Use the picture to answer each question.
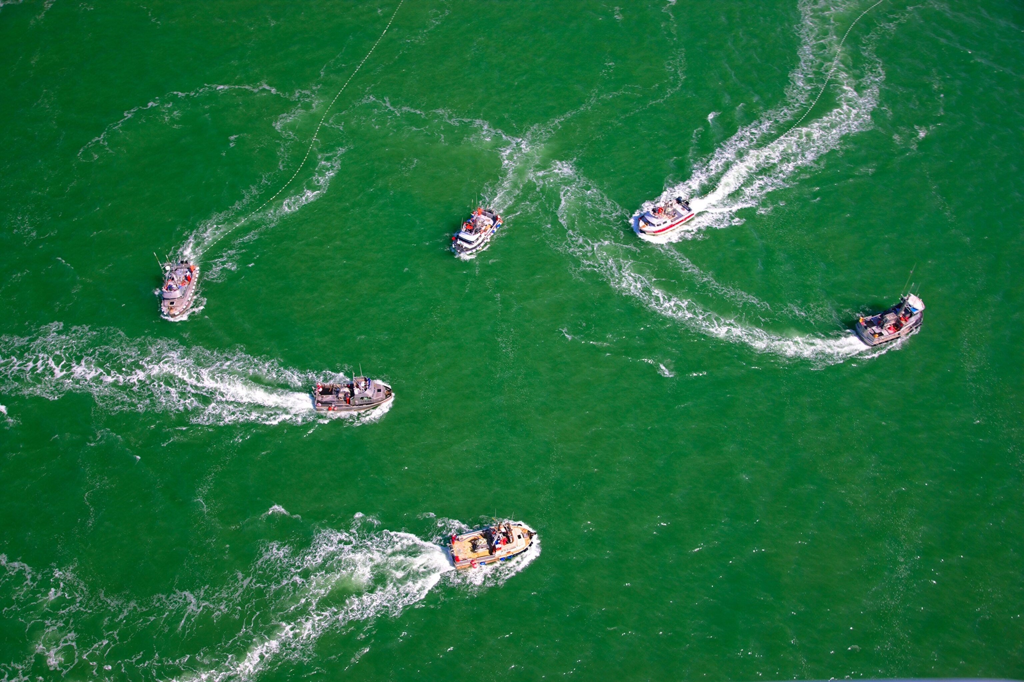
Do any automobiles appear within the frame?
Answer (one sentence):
No, this view has no automobile in it.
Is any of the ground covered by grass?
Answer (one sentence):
No, grass can't be seen anywhere here.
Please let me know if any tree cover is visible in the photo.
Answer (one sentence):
No, there's no tree cover in this view.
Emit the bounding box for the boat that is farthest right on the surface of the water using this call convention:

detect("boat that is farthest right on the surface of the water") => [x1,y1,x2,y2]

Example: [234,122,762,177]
[854,272,925,346]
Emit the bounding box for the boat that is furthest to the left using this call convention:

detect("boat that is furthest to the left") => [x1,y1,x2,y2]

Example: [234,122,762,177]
[156,253,200,318]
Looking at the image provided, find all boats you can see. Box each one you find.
[455,199,502,255]
[448,516,539,568]
[854,272,925,346]
[638,191,693,235]
[311,364,391,411]
[156,253,200,318]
